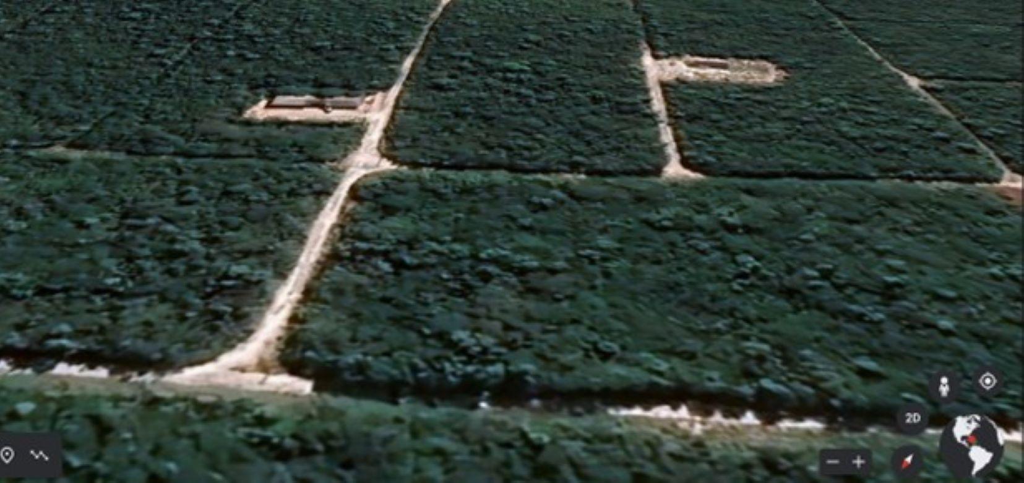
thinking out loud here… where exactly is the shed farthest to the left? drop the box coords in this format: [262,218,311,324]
[268,95,329,110]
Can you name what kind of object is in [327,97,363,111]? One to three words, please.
shed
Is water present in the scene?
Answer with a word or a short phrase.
No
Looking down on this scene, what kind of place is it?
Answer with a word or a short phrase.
forest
